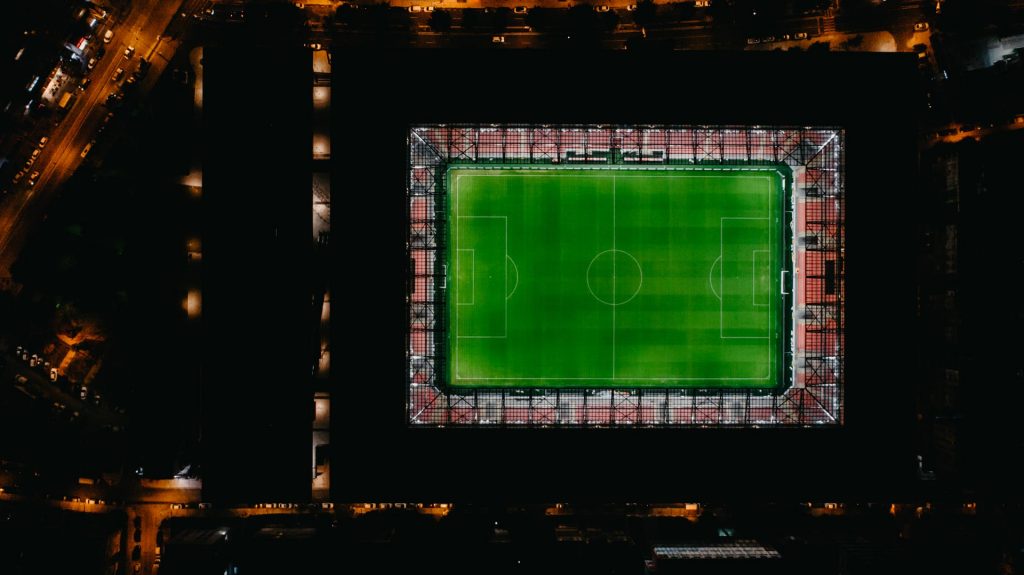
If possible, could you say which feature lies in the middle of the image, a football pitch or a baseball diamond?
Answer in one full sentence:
Visible in the middle of the image is a football pitch.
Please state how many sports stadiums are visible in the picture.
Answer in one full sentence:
The count comes to 1 sports stadium.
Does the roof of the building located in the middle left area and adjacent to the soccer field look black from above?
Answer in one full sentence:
Yes, the roof of the building located in the middle left area and adjacent to the soccer field appears black.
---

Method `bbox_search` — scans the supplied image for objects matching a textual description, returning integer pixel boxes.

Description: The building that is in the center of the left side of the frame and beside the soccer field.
[203,50,313,502]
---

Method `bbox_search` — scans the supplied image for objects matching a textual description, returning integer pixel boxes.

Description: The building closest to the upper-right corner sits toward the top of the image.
[938,153,1020,212]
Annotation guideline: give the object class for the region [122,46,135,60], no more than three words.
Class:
vehicle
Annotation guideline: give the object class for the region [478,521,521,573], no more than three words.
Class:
building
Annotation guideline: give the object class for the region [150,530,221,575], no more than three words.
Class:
shed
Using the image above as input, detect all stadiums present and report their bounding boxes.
[329,50,918,503]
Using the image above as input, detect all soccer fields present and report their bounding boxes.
[435,158,791,395]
